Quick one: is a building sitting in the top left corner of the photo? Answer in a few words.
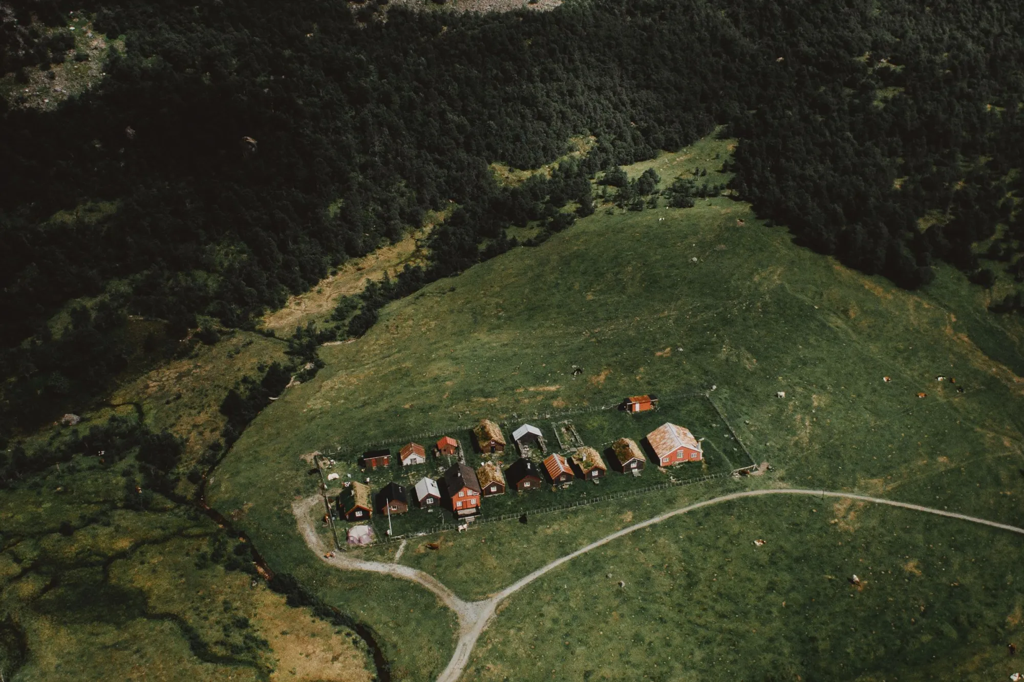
No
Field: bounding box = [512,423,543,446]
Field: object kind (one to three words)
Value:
barn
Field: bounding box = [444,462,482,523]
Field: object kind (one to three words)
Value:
house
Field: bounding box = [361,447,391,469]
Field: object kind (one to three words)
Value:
shed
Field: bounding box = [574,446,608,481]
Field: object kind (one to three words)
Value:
house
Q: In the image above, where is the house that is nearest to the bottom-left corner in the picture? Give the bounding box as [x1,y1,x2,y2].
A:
[339,480,373,521]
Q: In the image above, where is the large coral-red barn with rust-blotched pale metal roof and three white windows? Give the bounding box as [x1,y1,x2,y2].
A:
[647,422,707,467]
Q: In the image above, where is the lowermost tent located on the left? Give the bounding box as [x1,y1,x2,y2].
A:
[347,526,375,546]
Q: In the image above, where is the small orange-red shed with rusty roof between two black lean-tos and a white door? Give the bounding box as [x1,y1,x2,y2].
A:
[623,394,659,413]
